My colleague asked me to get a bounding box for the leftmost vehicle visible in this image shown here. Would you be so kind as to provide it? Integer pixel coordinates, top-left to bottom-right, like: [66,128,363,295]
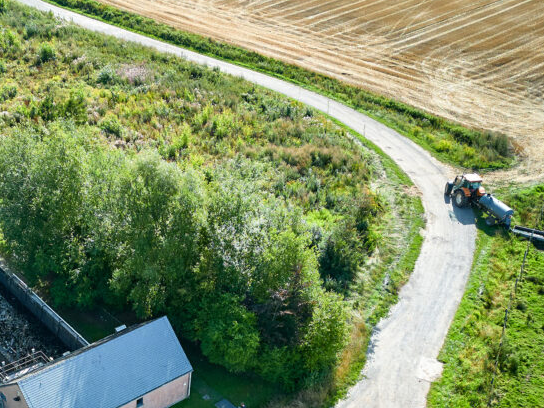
[438,176,485,208]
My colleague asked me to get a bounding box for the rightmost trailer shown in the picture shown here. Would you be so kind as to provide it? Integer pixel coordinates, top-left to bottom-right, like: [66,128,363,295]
[478,188,518,226]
